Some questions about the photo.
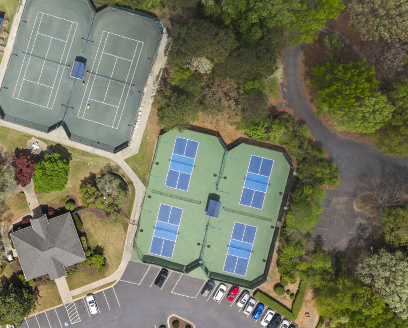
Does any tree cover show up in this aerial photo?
Yes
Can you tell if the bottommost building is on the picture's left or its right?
left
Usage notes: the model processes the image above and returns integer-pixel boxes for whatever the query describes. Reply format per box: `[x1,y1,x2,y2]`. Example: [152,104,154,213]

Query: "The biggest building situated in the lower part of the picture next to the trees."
[10,212,86,281]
